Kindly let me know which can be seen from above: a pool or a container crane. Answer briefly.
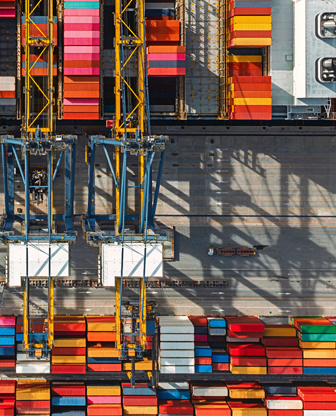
container crane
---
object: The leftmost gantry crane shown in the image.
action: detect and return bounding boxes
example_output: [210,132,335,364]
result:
[0,0,81,358]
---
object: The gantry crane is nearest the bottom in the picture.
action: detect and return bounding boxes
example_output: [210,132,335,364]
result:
[123,311,157,391]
